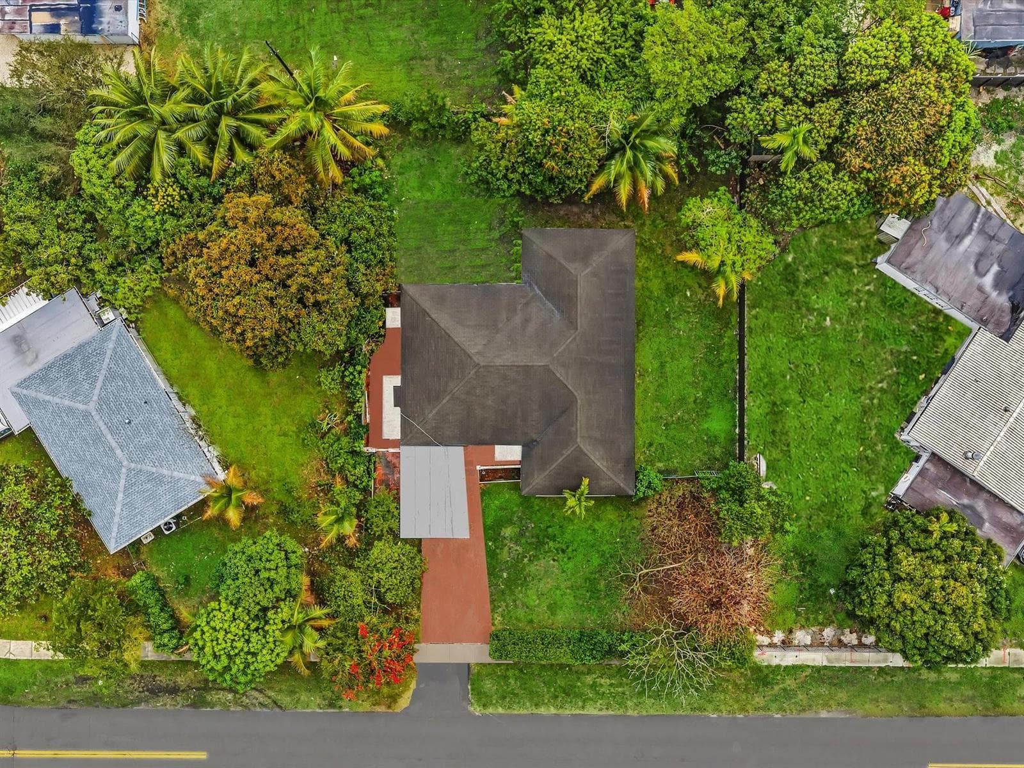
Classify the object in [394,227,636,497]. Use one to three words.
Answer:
house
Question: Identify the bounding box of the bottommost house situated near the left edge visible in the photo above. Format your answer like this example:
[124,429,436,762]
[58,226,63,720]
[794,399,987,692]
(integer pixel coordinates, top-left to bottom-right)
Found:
[0,275,228,555]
